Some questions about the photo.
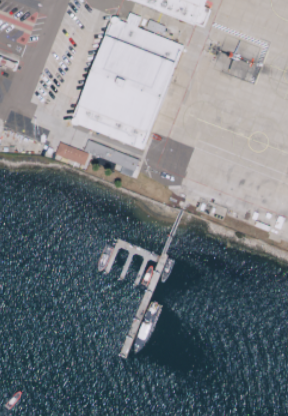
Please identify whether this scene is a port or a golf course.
port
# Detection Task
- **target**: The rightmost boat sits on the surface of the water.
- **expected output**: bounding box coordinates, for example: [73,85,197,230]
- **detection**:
[162,259,175,282]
